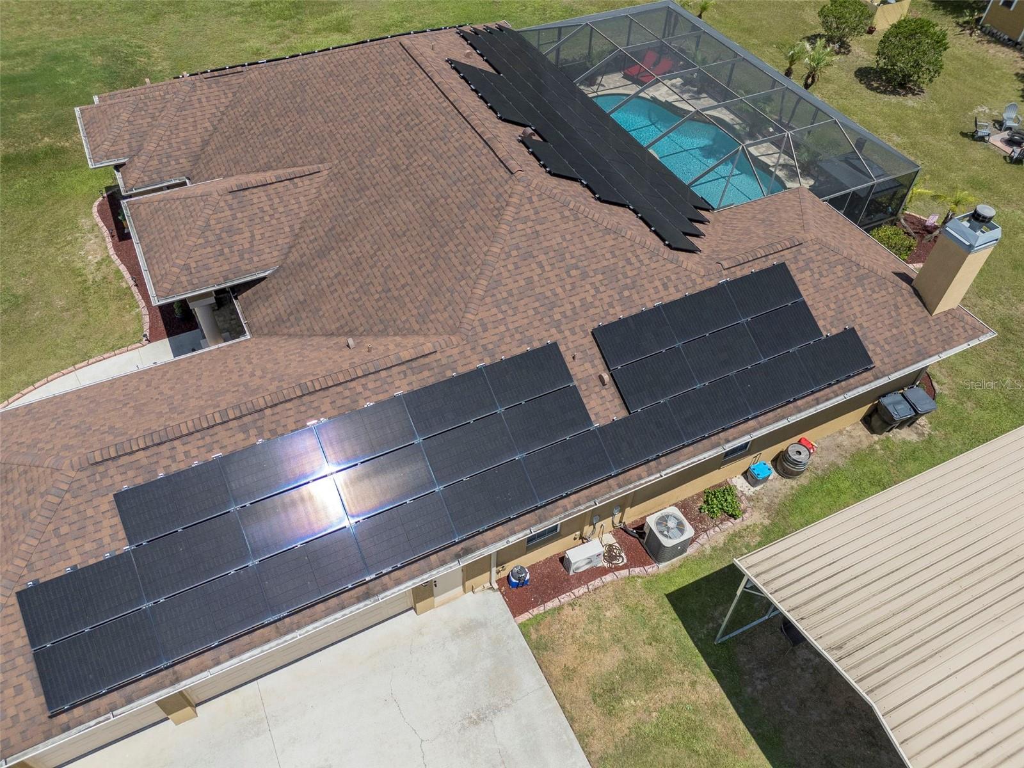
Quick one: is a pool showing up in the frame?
Yes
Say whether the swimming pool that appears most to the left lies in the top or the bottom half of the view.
top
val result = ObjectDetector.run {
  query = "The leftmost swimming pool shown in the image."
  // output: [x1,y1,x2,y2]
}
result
[693,157,780,213]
